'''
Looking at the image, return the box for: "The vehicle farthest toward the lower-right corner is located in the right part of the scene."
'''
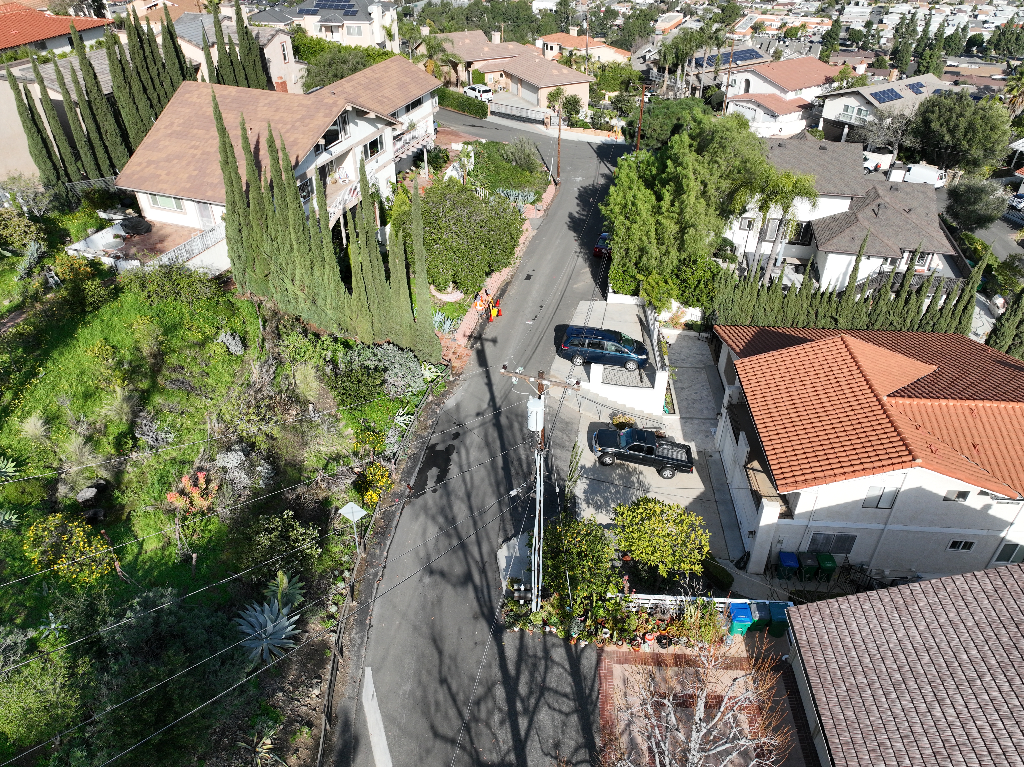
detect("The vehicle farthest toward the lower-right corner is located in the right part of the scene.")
[587,425,699,478]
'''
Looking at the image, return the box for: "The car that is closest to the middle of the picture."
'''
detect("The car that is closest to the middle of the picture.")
[560,324,652,372]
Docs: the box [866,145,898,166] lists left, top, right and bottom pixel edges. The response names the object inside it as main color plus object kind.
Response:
white truck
